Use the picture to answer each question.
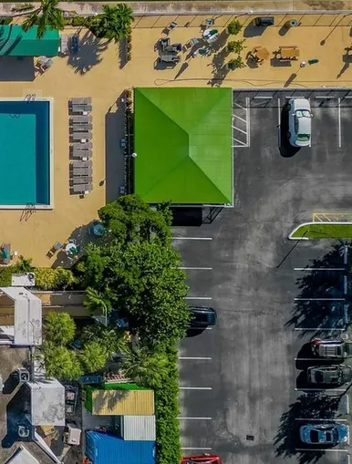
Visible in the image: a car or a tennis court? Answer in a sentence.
Visible in the photo is a car.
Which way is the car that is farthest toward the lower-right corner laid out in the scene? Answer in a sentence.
The car that is farthest toward the lower-right corner is oriented from side to side.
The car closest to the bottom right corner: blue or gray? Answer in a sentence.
The color of the car closest to the bottom right corner is blue.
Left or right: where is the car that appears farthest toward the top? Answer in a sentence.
The car that appears farthest toward the top sits on the right side.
